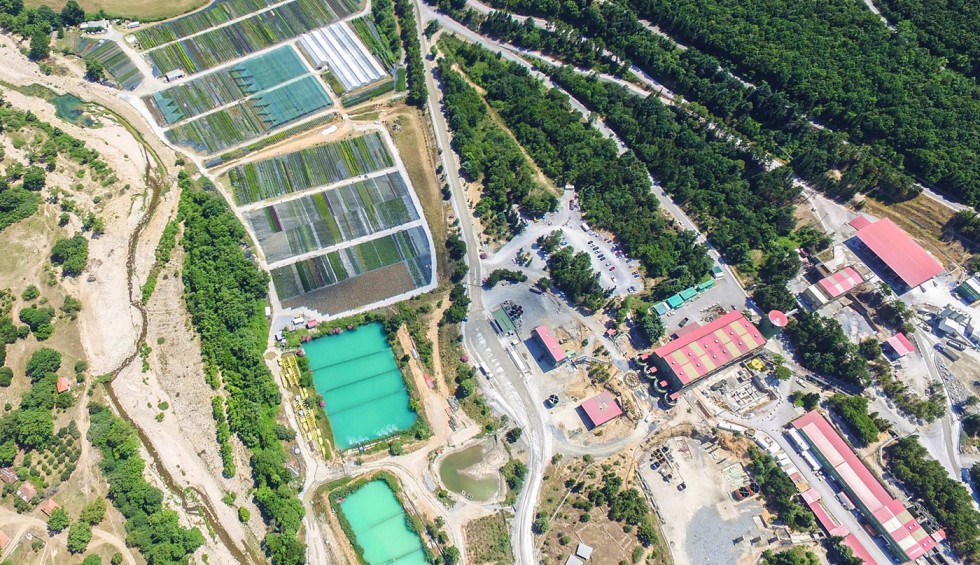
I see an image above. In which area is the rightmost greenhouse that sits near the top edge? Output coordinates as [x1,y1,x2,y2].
[300,20,388,93]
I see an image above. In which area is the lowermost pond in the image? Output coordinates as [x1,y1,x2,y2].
[341,479,427,565]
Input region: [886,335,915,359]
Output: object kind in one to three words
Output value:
shed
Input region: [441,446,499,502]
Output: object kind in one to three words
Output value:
pond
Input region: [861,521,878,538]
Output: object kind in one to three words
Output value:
vehicle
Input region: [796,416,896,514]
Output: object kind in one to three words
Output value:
building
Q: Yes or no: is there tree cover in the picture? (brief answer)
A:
Yes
